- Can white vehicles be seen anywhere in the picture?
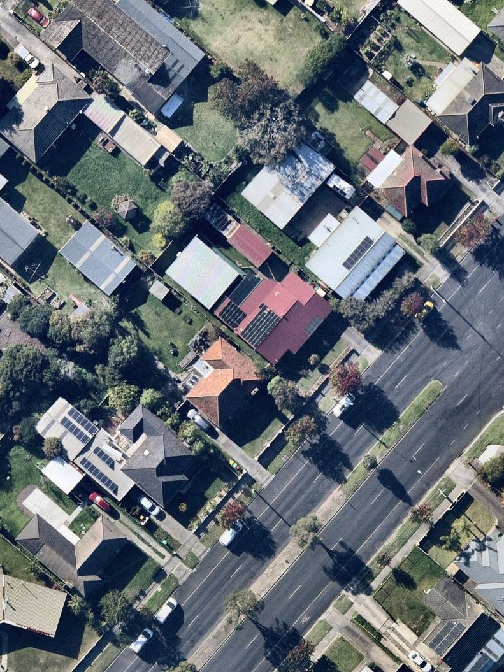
Yes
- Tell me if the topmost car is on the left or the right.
left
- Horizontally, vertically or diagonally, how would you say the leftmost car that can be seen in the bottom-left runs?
diagonally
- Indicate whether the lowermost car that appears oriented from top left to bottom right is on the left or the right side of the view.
right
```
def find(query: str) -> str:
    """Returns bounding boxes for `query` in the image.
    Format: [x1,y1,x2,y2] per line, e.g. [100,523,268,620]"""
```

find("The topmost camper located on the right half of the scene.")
[330,174,356,198]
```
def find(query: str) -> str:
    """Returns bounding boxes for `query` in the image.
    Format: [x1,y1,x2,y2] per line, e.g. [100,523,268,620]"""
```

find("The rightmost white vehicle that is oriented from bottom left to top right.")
[332,393,355,419]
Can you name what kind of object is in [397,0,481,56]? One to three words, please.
shed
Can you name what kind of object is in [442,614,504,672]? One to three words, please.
house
